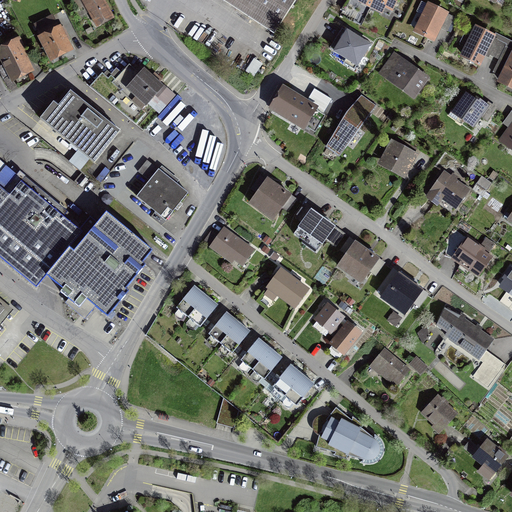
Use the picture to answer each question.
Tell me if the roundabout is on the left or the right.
left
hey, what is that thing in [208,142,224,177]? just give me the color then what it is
white vehicle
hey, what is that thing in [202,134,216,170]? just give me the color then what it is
white vehicle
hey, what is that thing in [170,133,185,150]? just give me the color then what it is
blue vehicle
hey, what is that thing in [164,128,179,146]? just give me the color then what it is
blue vehicle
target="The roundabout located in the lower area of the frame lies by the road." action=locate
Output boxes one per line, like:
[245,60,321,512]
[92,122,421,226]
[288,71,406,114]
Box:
[52,386,123,457]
